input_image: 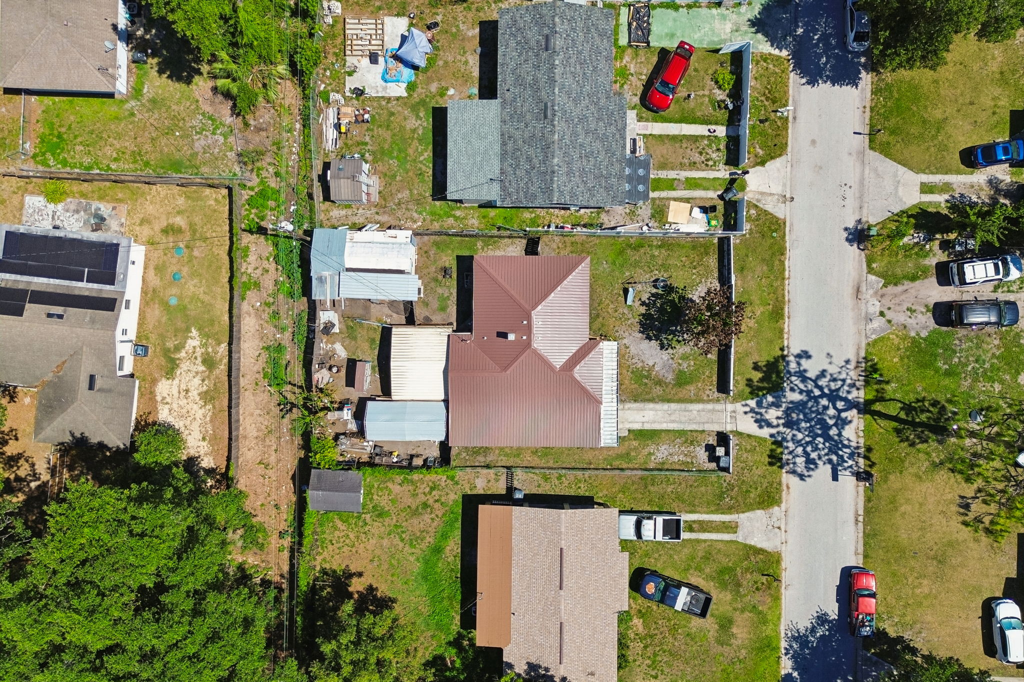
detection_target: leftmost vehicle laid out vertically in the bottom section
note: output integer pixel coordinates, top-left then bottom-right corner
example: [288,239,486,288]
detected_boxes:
[843,564,878,639]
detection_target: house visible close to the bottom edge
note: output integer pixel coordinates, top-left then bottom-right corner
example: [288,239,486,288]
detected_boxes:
[476,505,629,682]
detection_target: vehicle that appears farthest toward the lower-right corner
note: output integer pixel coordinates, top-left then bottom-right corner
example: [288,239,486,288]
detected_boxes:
[987,596,1024,663]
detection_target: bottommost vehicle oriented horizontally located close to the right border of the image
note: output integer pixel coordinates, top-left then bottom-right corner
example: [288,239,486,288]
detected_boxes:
[943,299,1016,330]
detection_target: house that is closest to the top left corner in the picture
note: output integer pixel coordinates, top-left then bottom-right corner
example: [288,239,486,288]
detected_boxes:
[1,0,126,95]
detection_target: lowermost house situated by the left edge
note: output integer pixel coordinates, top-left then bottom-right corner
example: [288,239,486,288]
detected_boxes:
[0,223,149,452]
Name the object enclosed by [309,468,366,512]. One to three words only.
shed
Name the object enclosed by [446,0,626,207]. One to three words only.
house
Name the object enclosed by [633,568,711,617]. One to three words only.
truck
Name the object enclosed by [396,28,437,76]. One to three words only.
gazebo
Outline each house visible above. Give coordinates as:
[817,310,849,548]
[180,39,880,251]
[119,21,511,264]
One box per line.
[0,223,149,452]
[449,254,610,447]
[476,505,629,682]
[446,0,626,207]
[1,0,126,95]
